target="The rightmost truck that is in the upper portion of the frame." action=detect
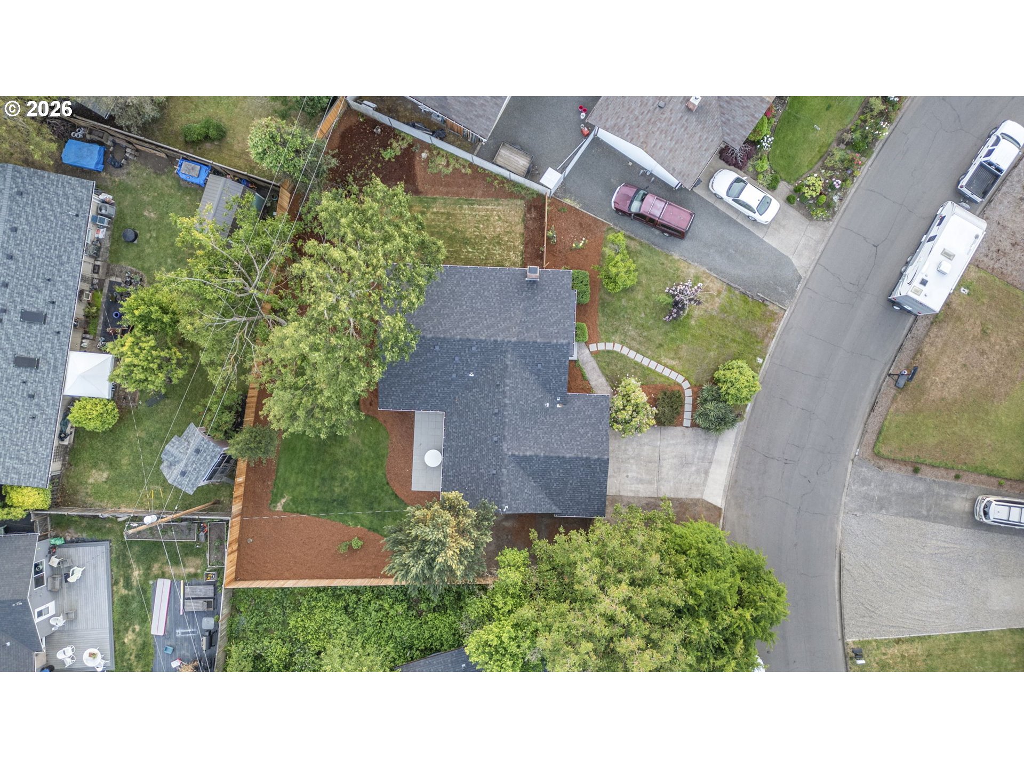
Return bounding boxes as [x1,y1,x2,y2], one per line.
[953,107,1024,209]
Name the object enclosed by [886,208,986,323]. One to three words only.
vehicle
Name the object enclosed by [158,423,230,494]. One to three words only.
shed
